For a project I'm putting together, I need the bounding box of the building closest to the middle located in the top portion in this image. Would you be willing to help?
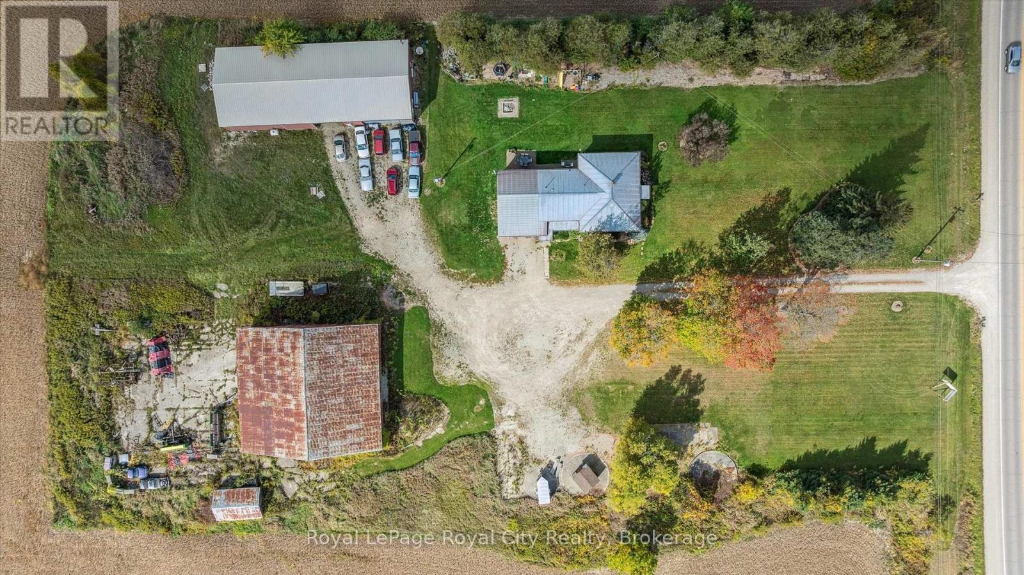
[497,151,650,237]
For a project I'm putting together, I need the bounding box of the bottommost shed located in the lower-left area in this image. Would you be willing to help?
[209,486,266,520]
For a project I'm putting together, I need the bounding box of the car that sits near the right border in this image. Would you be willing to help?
[1004,46,1023,75]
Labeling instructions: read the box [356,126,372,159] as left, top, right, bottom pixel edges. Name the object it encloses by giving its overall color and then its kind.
white car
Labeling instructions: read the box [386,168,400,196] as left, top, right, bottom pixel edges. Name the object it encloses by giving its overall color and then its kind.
red car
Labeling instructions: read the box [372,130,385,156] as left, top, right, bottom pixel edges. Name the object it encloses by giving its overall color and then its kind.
red vehicle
